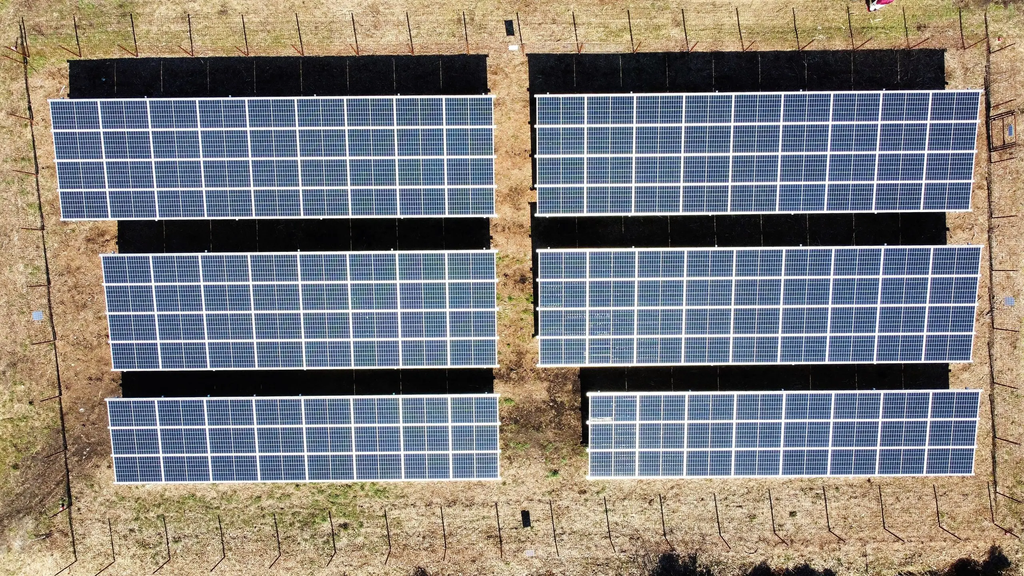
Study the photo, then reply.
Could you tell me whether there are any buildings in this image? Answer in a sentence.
No, there's no building here.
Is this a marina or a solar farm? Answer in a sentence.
This image shows a solar farm.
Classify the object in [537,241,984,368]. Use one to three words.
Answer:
solar array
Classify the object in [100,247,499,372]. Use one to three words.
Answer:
solar array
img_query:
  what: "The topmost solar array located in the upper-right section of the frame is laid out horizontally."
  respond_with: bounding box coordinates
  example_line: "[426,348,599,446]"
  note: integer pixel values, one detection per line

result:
[534,87,983,218]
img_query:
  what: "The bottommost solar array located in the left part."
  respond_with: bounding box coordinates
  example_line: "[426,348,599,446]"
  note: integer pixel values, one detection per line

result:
[105,390,501,485]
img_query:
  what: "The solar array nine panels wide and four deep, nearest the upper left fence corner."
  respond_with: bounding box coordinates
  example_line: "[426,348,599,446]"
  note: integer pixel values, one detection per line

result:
[47,92,497,222]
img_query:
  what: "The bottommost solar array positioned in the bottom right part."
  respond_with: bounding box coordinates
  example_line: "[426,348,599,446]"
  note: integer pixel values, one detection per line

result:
[586,385,983,480]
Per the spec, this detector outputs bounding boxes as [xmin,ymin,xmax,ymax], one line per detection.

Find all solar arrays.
[100,247,499,372]
[47,92,497,222]
[537,241,984,368]
[586,385,983,480]
[105,390,501,485]
[534,87,983,218]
